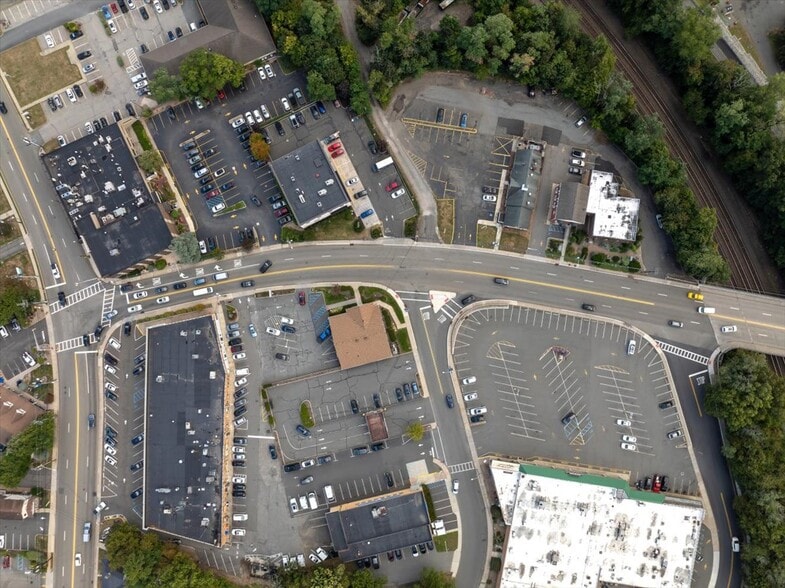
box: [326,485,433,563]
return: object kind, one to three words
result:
building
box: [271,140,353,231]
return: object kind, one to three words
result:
building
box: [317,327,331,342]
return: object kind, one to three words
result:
vehicle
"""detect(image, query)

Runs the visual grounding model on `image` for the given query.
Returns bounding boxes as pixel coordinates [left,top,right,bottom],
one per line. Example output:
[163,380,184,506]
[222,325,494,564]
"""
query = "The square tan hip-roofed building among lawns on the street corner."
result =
[329,303,392,370]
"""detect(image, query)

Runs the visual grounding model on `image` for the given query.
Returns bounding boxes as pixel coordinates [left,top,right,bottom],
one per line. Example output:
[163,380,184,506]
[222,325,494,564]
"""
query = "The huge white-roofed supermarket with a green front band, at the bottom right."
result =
[488,460,703,588]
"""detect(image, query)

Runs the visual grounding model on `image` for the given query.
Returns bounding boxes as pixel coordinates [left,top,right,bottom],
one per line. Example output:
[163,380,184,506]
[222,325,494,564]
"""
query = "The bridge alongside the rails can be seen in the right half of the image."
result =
[690,280,785,356]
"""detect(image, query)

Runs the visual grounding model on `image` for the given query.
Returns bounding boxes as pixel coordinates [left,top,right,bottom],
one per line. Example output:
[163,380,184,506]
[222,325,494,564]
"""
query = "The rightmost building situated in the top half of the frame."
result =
[585,170,640,242]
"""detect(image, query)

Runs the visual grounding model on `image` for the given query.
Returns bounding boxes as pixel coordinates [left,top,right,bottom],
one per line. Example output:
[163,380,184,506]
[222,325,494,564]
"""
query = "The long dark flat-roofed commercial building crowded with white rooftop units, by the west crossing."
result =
[41,122,179,278]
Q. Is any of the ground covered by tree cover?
Yes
